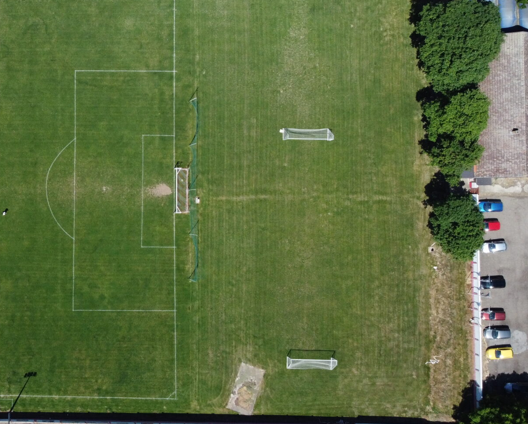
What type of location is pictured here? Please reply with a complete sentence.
The area seen from above is a sports ground.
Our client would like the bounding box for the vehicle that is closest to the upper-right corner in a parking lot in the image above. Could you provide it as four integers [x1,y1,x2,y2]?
[481,199,508,214]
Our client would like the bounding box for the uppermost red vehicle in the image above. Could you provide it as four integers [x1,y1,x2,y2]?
[482,219,503,233]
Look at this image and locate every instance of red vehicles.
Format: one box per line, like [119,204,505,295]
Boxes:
[482,219,503,233]
[483,310,508,324]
